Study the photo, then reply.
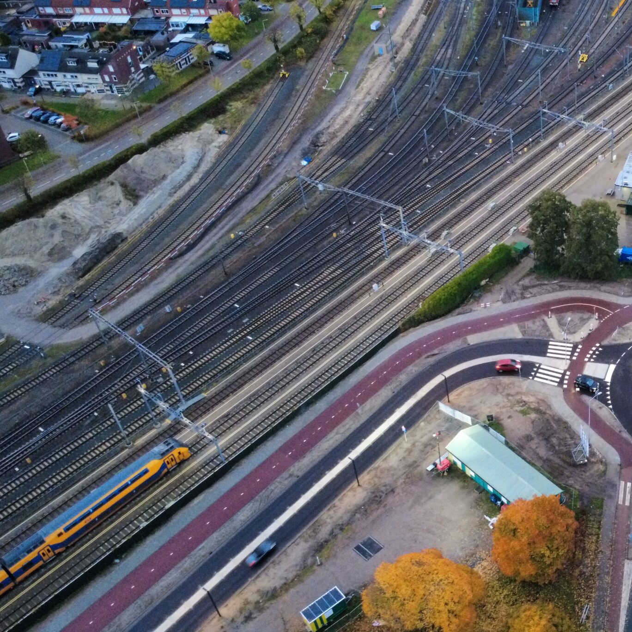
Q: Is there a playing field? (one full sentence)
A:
No, no playing field is visible in the scene.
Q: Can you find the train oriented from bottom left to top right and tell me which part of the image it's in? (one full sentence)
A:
The train oriented from bottom left to top right is in the bottom left part of the image.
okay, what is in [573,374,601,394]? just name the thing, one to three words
car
